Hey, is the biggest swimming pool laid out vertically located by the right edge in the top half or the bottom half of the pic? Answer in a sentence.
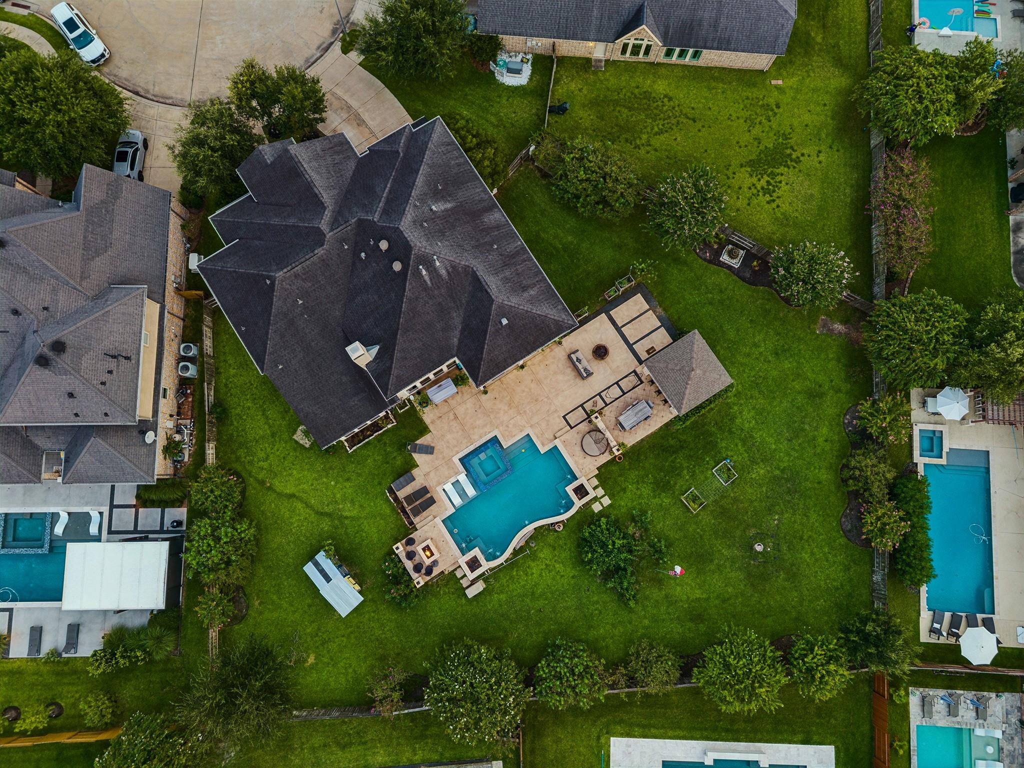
You can find the biggest swimming pool laid out vertically located by the right edge in the bottom half.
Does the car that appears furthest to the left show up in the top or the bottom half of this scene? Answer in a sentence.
The car that appears furthest to the left sits in the top half of the picture.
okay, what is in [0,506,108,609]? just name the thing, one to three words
swimming pool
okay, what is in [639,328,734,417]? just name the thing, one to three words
building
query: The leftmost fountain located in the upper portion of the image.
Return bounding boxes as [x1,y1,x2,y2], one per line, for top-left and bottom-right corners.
[719,246,745,269]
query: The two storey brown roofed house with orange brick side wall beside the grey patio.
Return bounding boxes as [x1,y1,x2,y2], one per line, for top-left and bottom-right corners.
[0,163,189,486]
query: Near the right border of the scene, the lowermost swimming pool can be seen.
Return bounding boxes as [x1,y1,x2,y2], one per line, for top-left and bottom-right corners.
[914,722,1000,768]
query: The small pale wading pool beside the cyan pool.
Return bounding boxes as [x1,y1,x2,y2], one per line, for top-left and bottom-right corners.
[971,11,1004,39]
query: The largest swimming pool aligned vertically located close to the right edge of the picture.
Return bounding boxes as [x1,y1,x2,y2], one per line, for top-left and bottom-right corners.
[918,442,1002,621]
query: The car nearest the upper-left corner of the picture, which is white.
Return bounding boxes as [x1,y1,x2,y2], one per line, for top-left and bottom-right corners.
[48,0,116,74]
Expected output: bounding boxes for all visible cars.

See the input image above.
[48,0,116,74]
[109,131,150,184]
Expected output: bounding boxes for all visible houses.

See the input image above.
[0,163,189,486]
[195,116,578,450]
[462,0,798,72]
